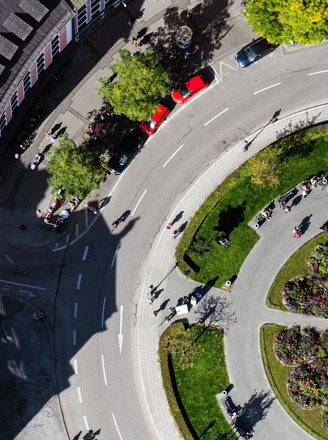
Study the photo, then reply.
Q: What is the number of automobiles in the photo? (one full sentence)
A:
There are 4 automobiles in the image.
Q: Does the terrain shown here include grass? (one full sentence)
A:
Yes, grass shows up in the scene.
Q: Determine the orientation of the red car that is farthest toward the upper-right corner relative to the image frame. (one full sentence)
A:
In this picture, the red car that is farthest toward the upper-right corner is oriented diagonally.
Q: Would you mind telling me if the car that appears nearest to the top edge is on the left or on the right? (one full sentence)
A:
The car that appears nearest to the top edge is on the right side of the image.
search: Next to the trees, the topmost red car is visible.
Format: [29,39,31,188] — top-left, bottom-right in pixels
[174,73,209,104]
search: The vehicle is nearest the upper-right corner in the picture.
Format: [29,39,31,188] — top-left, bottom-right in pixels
[236,33,278,67]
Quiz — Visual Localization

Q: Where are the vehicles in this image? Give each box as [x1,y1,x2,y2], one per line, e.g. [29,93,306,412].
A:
[138,104,172,136]
[174,73,209,104]
[236,33,278,67]
[107,134,143,174]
